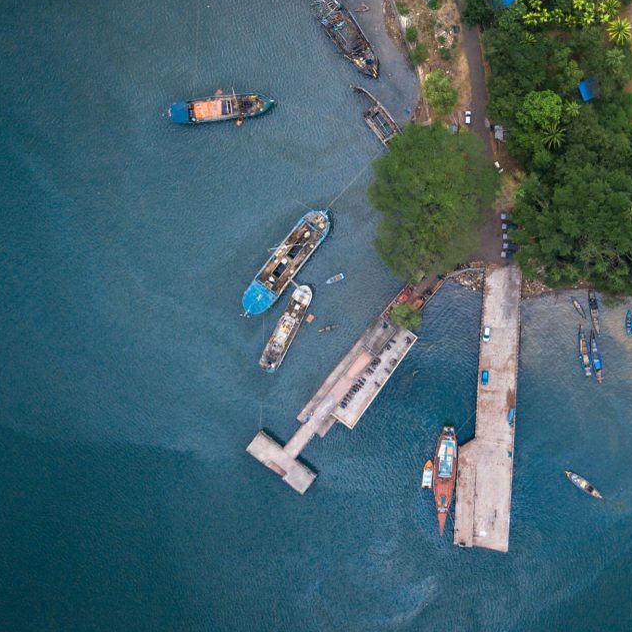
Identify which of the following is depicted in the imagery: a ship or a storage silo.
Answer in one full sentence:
There is a ship in the scene.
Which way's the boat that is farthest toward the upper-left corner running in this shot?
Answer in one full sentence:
From this overhead view, the boat that is farthest toward the upper-left corner appears to run from left to right.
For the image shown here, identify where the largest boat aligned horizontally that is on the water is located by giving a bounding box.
[168,86,276,122]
